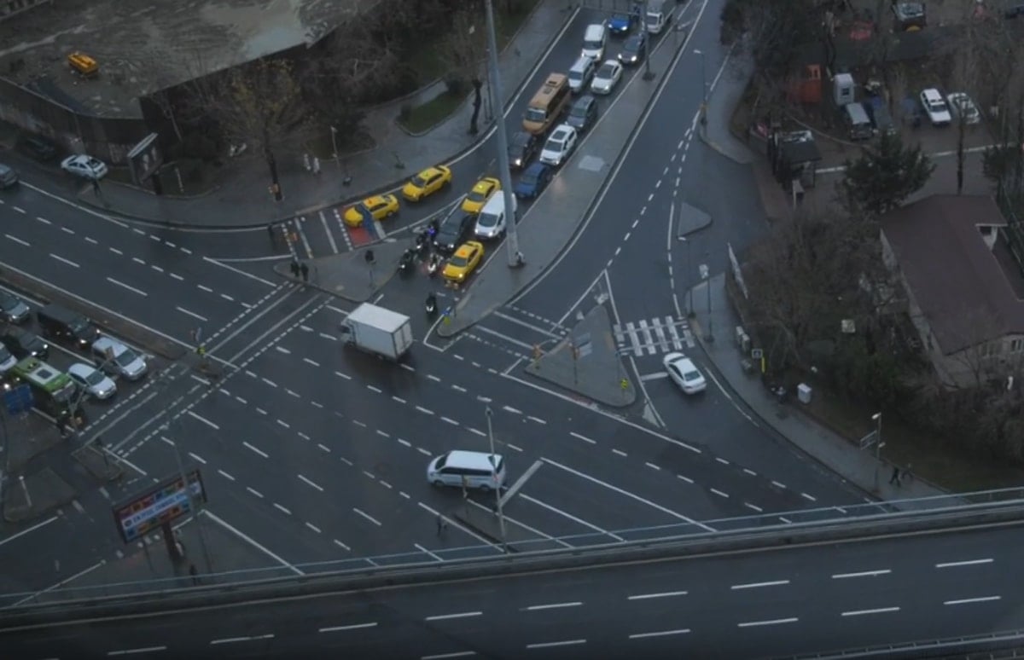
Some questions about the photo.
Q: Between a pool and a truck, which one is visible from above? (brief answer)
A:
truck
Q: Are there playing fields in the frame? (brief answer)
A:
No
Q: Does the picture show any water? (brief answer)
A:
No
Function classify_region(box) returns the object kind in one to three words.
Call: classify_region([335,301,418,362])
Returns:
truck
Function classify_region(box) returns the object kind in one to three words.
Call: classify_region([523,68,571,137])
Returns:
vehicle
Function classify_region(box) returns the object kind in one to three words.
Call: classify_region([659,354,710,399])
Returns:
car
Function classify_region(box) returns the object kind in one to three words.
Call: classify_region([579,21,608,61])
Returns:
van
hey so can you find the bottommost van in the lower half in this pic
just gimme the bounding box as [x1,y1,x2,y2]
[426,449,508,492]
